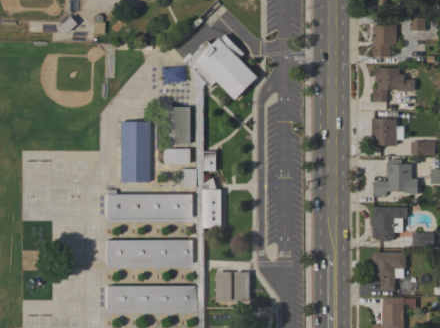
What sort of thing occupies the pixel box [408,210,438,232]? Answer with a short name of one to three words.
swimming pool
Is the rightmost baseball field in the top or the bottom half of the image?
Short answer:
top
